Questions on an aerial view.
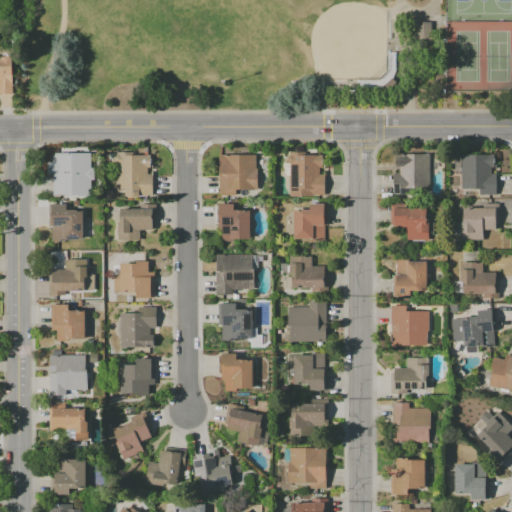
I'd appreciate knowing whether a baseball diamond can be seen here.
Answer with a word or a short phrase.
Yes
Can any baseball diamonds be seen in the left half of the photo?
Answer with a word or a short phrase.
No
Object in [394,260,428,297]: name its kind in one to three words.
house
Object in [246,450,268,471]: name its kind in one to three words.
swimming pool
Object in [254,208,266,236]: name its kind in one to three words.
swimming pool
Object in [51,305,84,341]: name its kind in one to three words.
house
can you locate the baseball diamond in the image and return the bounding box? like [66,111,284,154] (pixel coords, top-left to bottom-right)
[311,2,387,80]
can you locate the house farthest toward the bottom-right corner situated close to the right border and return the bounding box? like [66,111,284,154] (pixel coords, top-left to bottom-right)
[456,464,487,501]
